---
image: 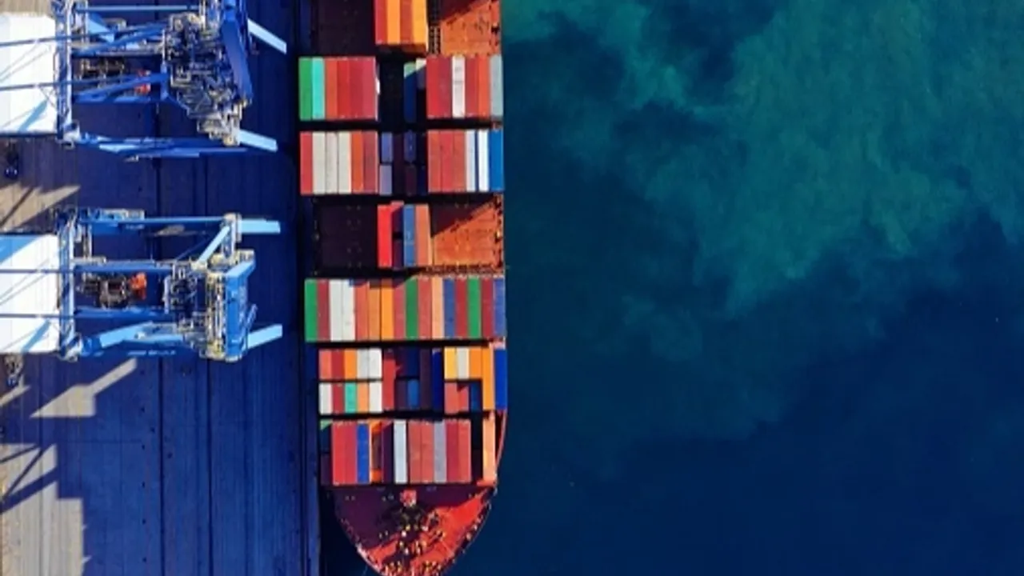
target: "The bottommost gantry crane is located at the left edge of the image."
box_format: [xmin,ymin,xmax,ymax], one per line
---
[0,203,304,373]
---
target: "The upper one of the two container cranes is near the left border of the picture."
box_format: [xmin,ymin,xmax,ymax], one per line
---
[0,0,302,182]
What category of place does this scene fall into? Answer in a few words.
port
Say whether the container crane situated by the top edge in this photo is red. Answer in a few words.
No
